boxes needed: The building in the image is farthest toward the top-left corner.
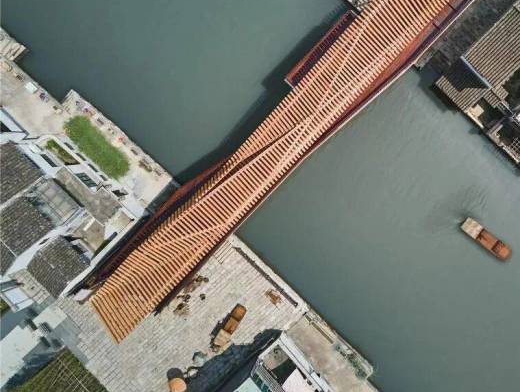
[0,142,58,203]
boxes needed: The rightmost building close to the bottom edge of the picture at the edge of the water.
[225,316,350,392]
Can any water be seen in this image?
Yes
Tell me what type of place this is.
residential area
